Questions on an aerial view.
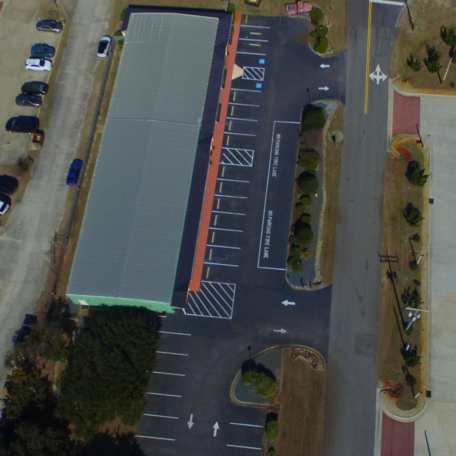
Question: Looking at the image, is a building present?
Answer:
Yes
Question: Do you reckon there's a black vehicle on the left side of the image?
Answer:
Yes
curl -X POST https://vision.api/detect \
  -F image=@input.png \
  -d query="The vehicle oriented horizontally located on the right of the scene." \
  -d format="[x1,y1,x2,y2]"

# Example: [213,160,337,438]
[284,0,313,15]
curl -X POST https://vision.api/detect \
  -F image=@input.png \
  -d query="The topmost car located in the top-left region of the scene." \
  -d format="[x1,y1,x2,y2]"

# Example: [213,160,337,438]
[35,20,63,35]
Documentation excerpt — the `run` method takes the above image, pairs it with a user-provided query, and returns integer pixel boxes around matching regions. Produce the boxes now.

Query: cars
[24,55,53,72]
[0,177,23,193]
[12,94,43,109]
[66,157,86,186]
[7,115,40,132]
[35,20,63,35]
[28,42,58,59]
[0,200,10,215]
[96,36,113,59]
[19,80,50,95]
